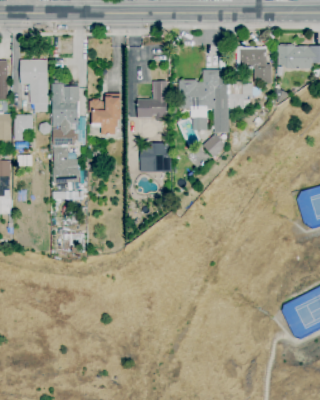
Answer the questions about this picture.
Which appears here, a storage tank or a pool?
pool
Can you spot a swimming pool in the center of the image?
Yes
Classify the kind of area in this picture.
residential area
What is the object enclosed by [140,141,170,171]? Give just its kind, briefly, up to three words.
house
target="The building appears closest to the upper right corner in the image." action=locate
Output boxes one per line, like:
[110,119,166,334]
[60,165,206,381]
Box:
[278,44,320,68]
